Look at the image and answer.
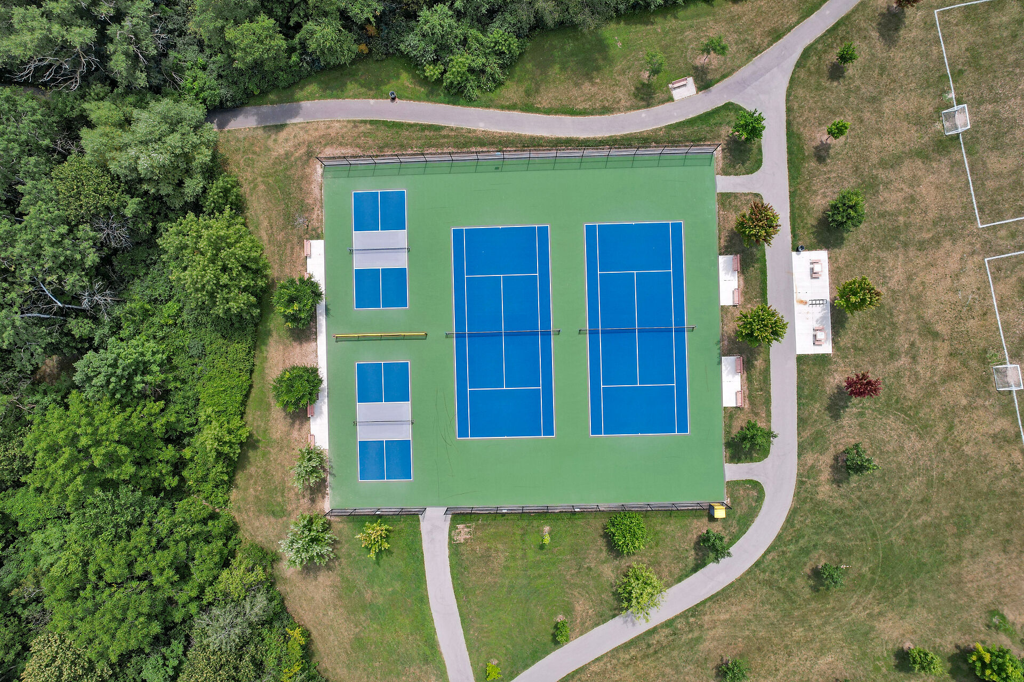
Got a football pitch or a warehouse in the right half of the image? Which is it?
football pitch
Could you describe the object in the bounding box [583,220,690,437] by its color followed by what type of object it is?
blue tennis court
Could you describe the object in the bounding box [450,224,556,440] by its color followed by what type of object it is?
blue tennis court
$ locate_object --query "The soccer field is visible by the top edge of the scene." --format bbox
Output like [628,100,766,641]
[935,0,1024,227]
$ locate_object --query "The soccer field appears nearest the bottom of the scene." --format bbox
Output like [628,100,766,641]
[986,251,1024,445]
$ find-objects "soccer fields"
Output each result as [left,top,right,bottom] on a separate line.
[935,0,1024,227]
[986,251,1024,445]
